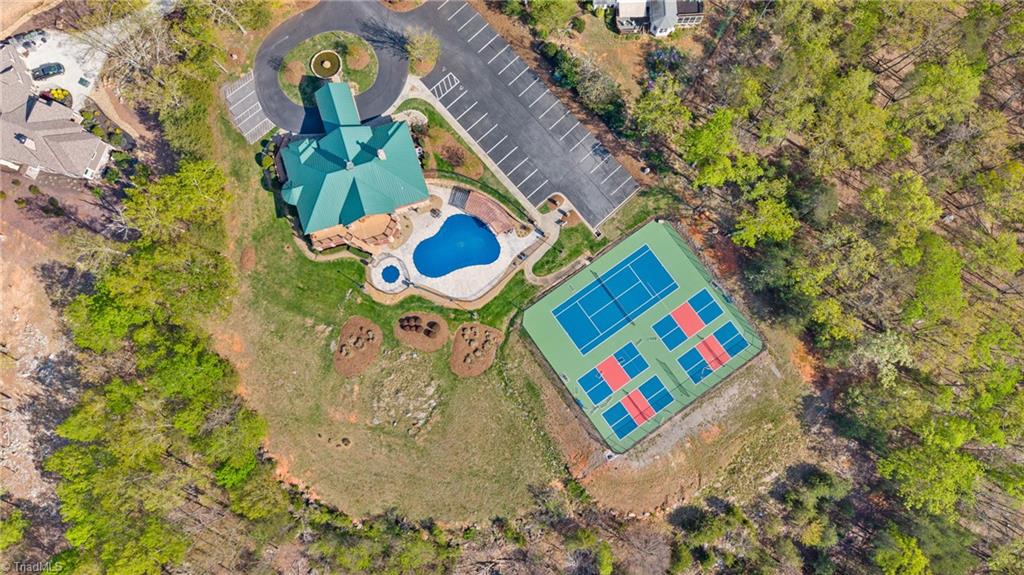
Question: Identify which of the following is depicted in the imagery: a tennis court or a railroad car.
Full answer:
I can see a tennis court in this picture.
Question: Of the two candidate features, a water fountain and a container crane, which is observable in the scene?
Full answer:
The image shows a water fountain.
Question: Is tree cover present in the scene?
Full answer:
Yes, tree cover shows up in the scene.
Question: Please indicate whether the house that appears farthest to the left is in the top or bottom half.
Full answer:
You can find the house that appears farthest to the left in the top half.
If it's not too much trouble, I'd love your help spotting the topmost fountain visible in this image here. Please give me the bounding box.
[310,47,343,80]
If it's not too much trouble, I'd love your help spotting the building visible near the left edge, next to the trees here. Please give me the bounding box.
[0,20,118,180]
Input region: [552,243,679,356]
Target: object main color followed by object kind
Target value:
blue tennis court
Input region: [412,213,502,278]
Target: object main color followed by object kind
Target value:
blue swimming pool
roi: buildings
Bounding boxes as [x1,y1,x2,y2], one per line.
[281,83,429,233]
[0,20,118,180]
[592,0,707,39]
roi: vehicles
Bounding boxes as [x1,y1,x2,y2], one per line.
[33,64,65,80]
